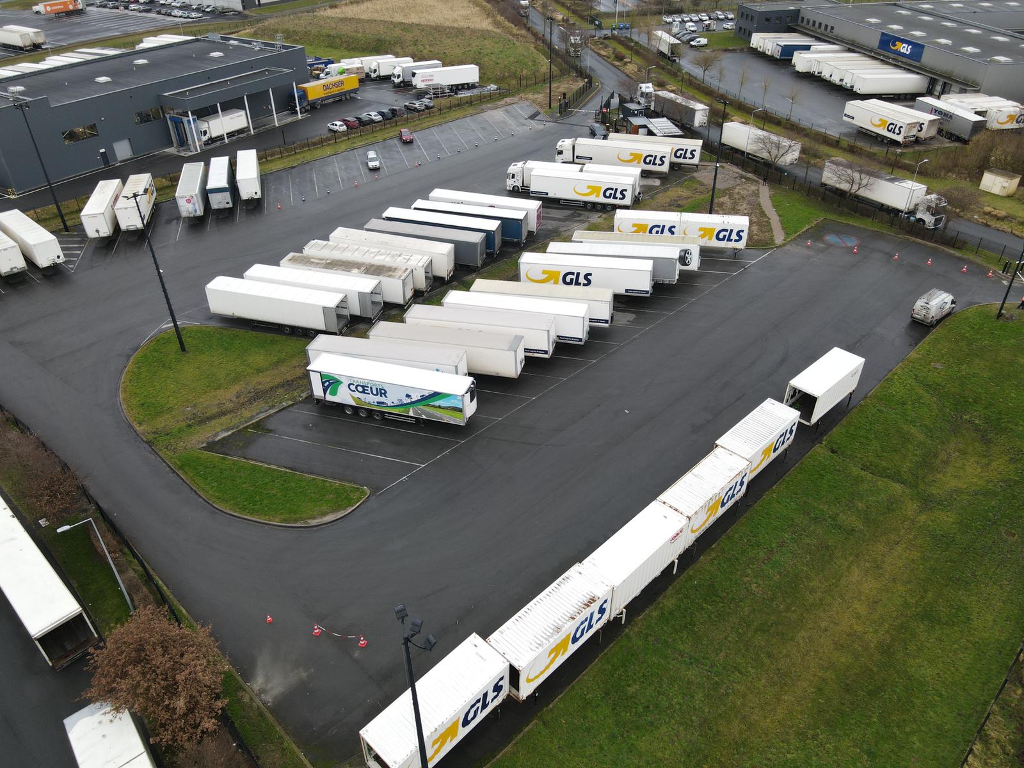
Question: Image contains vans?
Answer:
Yes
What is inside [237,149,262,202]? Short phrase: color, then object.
white trailer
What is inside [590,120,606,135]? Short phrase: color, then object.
gray car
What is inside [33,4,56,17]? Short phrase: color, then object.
white vehicle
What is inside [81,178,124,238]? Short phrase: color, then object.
white trailer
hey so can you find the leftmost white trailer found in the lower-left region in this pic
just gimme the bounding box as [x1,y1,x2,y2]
[0,497,100,675]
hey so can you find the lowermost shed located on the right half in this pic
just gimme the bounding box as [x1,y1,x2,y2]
[980,161,1024,196]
